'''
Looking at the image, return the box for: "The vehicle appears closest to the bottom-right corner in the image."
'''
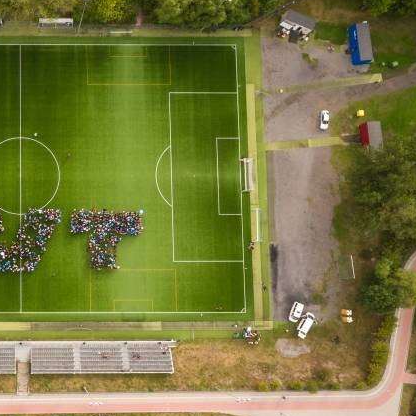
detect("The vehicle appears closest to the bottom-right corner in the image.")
[298,314,319,340]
